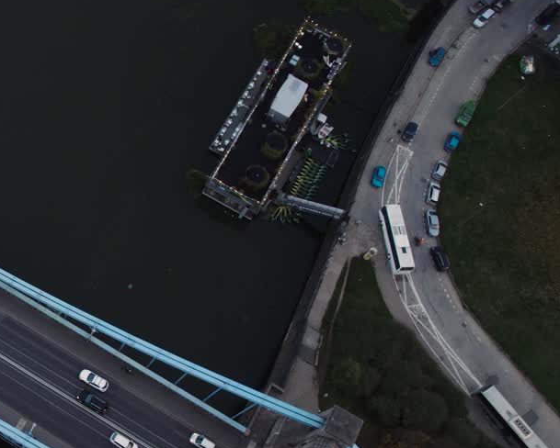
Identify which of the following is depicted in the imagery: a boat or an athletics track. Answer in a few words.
boat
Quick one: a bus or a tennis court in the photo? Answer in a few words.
bus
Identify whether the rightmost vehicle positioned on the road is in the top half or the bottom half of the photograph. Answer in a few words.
top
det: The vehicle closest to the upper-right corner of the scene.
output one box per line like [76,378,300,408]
[536,1,560,23]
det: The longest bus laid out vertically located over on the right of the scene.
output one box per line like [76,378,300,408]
[376,202,416,281]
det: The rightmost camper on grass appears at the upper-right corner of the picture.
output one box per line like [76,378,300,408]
[517,53,539,76]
